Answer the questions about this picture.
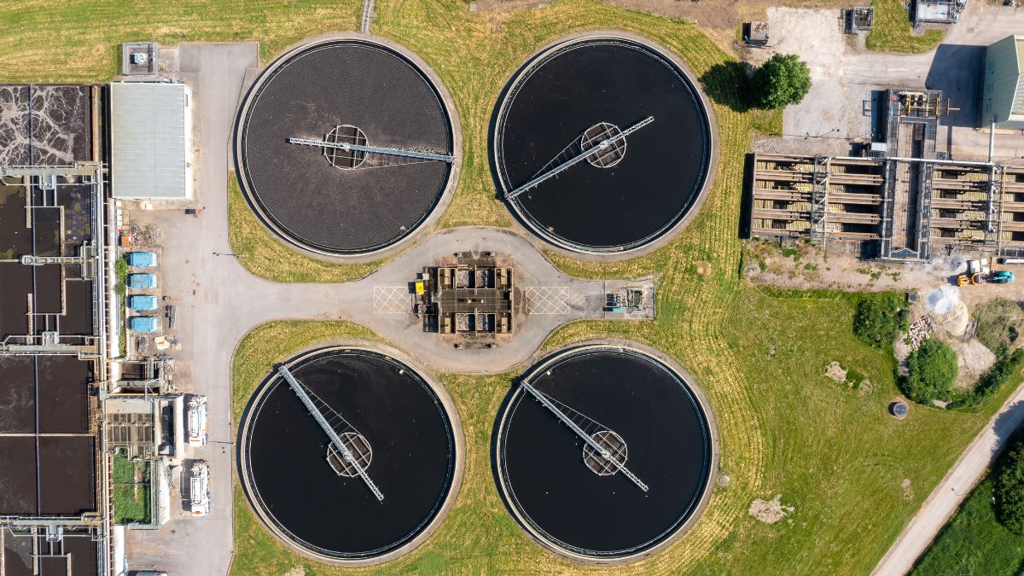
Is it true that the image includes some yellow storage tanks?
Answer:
No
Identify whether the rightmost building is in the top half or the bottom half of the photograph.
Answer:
top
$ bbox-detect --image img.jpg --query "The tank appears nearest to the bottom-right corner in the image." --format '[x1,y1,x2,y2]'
[488,334,719,565]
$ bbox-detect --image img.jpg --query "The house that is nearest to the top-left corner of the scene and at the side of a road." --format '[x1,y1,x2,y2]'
[112,82,192,200]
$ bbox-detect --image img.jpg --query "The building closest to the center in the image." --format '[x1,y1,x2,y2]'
[423,265,513,334]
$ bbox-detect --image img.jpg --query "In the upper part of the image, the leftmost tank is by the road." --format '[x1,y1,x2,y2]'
[233,32,463,263]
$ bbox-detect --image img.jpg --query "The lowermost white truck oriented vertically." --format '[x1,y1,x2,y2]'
[192,461,213,514]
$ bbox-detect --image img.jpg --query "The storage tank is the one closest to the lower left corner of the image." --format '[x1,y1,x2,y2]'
[237,337,467,567]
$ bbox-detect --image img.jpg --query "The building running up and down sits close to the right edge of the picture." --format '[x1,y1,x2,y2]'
[980,32,1024,127]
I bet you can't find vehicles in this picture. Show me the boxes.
[190,394,211,446]
[978,273,1015,284]
[192,461,213,514]
[957,273,983,285]
[141,571,167,576]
